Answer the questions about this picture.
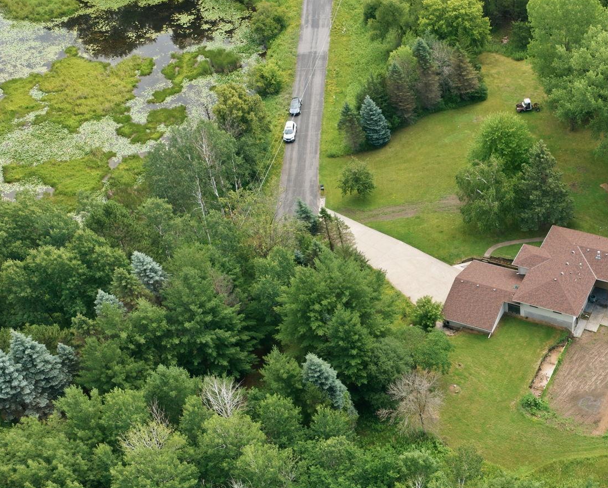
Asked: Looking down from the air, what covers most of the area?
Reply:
trees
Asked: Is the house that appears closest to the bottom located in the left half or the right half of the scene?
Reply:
right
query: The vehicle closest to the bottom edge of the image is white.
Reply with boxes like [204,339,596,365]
[281,121,297,141]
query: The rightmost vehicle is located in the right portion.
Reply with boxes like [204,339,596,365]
[515,98,545,112]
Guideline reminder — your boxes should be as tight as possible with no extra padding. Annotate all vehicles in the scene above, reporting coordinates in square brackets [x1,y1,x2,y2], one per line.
[515,98,545,112]
[288,96,302,114]
[281,121,297,141]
